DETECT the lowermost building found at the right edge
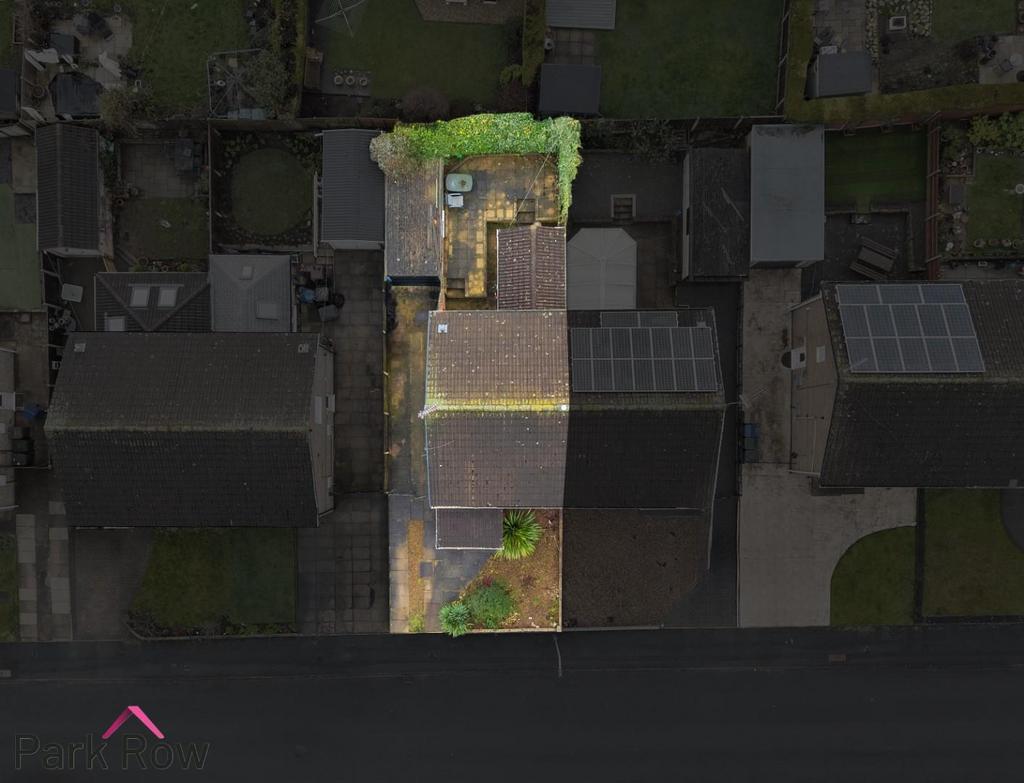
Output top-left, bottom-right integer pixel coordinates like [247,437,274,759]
[791,278,1024,492]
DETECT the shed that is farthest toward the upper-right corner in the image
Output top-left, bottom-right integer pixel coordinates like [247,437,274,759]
[809,53,872,102]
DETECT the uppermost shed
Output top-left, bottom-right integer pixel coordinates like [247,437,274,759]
[547,0,616,32]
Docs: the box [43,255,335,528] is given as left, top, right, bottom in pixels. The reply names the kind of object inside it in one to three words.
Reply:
house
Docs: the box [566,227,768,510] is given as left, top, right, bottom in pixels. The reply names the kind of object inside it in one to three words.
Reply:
house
